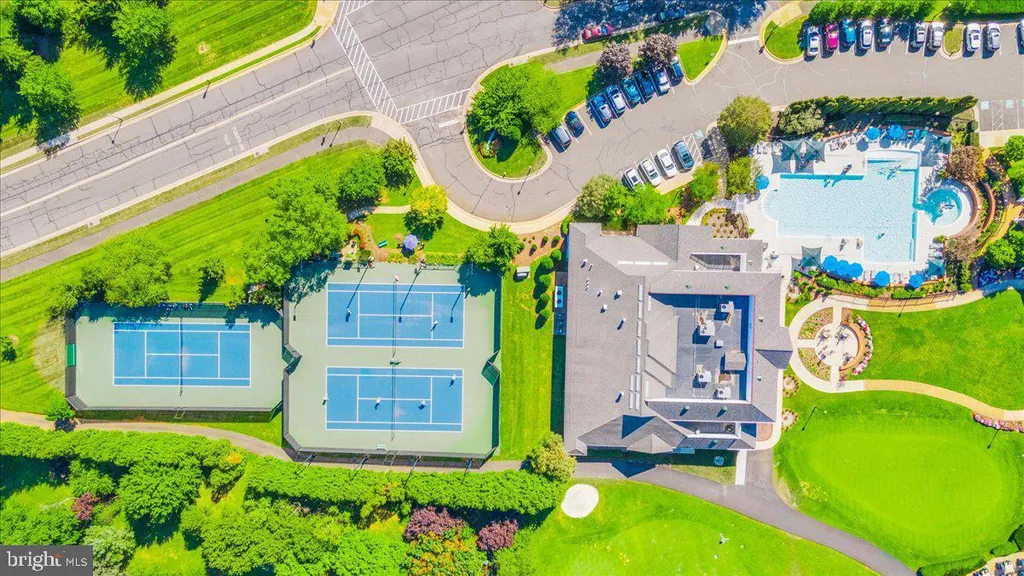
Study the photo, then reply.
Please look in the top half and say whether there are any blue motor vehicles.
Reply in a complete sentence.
Yes, looking in the top half, one can make out a blue motor vehicle.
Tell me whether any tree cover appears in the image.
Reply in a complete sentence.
Yes, there's tree cover in this view.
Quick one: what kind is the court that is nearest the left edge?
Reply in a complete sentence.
The court that is nearest the left edge appears to be a tennis court.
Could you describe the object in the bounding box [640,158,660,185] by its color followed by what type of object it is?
white car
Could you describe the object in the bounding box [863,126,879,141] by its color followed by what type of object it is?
blue umbrella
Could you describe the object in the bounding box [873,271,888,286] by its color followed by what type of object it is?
blue umbrella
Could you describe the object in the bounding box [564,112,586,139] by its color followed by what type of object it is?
blue car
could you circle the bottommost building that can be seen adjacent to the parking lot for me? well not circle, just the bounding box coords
[562,222,793,455]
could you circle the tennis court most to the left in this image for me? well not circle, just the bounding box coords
[76,304,285,408]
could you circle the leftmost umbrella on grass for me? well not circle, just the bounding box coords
[404,234,419,249]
